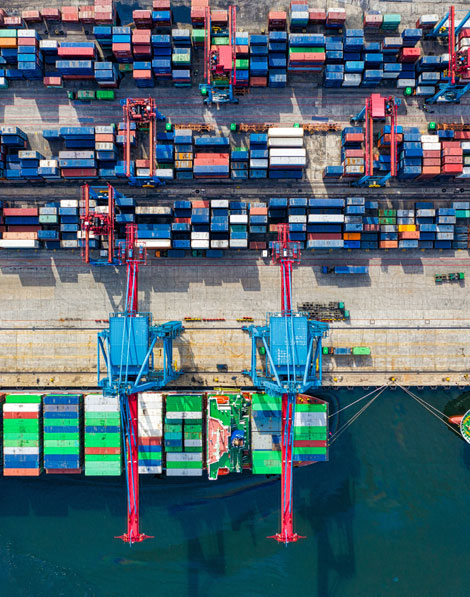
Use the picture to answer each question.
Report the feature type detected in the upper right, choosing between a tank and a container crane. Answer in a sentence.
Looking in the upper right, you will find a container crane.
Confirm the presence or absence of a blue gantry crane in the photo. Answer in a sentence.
Yes, there's a blue gantry crane down there.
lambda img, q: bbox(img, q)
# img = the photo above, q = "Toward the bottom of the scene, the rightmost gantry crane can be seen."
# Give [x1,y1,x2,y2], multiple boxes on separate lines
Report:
[237,224,328,549]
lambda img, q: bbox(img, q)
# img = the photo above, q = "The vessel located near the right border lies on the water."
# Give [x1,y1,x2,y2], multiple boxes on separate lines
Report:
[447,407,470,444]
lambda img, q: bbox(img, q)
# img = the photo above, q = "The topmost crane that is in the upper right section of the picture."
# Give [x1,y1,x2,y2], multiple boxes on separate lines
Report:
[426,5,470,104]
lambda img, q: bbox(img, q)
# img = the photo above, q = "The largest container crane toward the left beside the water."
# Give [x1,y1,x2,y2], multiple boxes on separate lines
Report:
[96,224,191,549]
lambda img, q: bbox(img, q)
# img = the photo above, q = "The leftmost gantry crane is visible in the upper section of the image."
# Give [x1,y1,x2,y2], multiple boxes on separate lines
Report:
[82,181,129,267]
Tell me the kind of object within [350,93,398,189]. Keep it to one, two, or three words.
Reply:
container crane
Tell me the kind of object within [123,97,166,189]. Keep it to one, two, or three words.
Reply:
container crane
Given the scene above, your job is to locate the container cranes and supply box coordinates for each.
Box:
[96,224,191,549]
[237,224,328,549]
[123,97,166,189]
[203,5,238,104]
[350,93,398,189]
[82,181,129,267]
[426,5,470,104]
